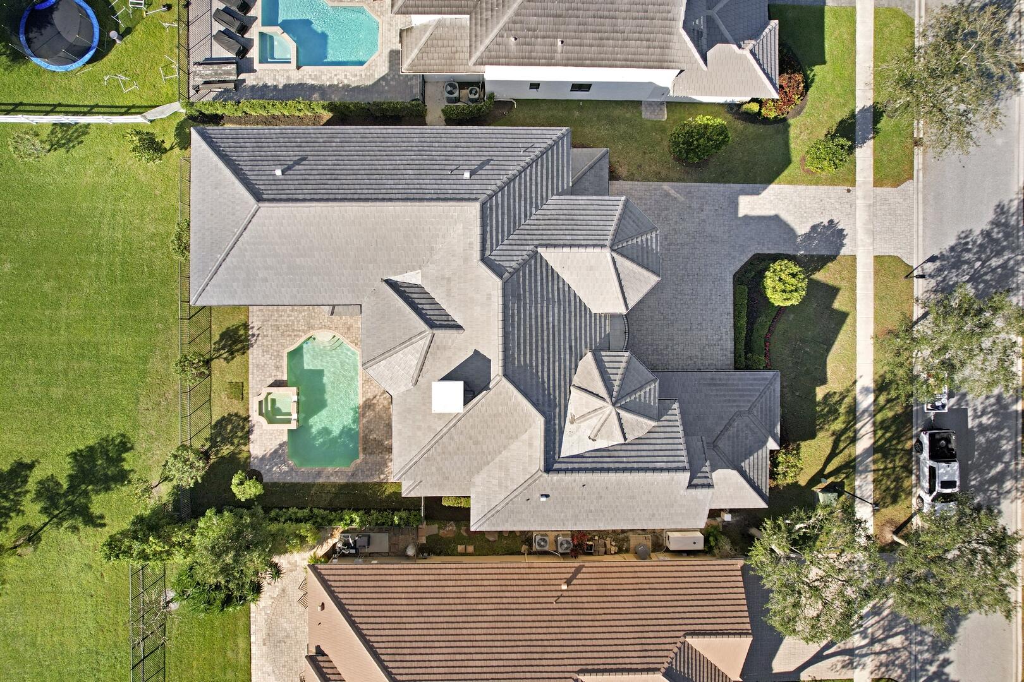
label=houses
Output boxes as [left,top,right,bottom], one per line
[188,125,782,532]
[389,0,781,103]
[304,553,753,682]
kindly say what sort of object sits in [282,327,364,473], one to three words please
swimming pool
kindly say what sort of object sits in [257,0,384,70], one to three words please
swimming pool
